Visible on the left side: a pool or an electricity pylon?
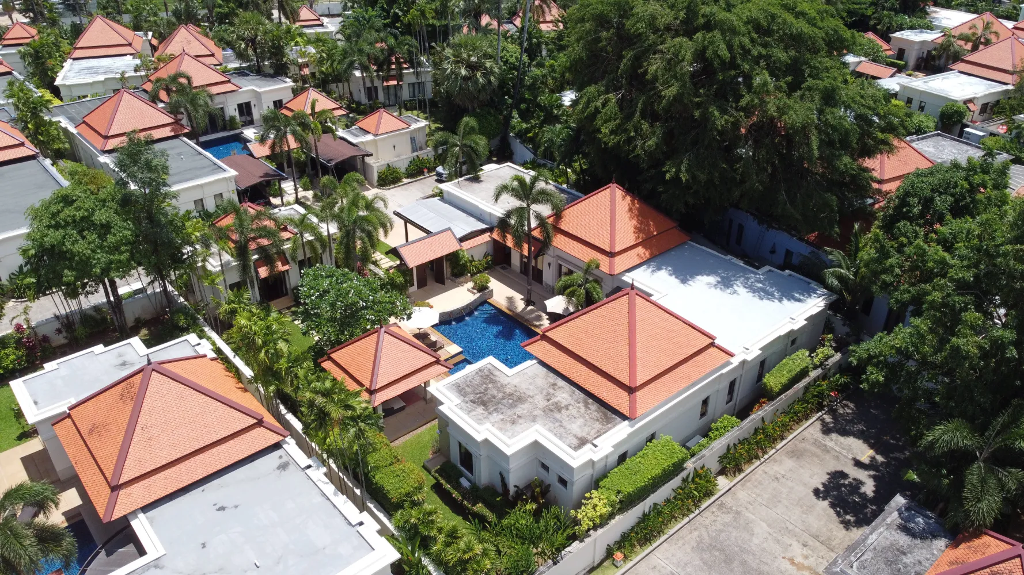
pool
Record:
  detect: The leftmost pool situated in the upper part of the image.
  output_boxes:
[195,130,256,159]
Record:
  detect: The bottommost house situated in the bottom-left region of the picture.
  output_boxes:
[9,334,402,575]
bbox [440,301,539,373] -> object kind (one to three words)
swimming pool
